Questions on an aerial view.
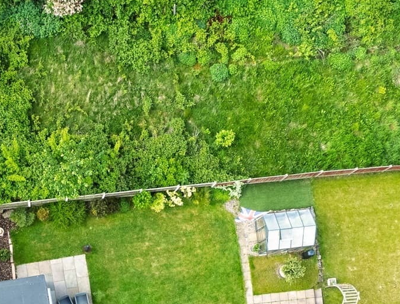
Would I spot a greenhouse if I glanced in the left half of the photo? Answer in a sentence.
No, I can find no greenhouse in the left half of the photo.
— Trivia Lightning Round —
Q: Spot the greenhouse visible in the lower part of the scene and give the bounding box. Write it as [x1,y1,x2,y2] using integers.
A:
[257,209,316,255]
